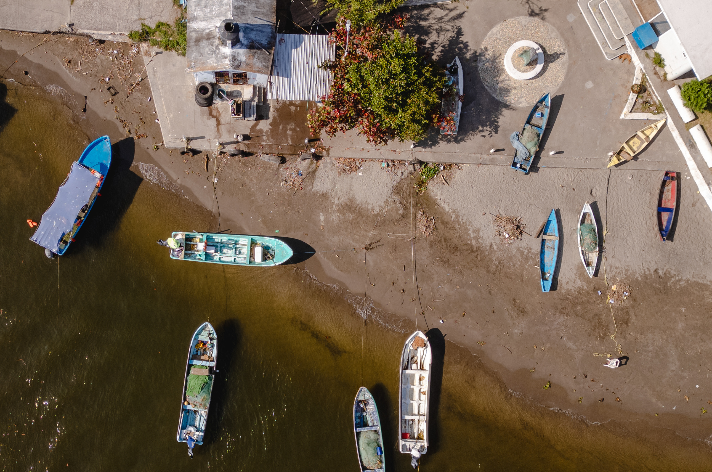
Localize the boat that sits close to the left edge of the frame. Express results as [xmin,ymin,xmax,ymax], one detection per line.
[30,135,111,261]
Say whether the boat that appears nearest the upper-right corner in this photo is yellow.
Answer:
Yes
